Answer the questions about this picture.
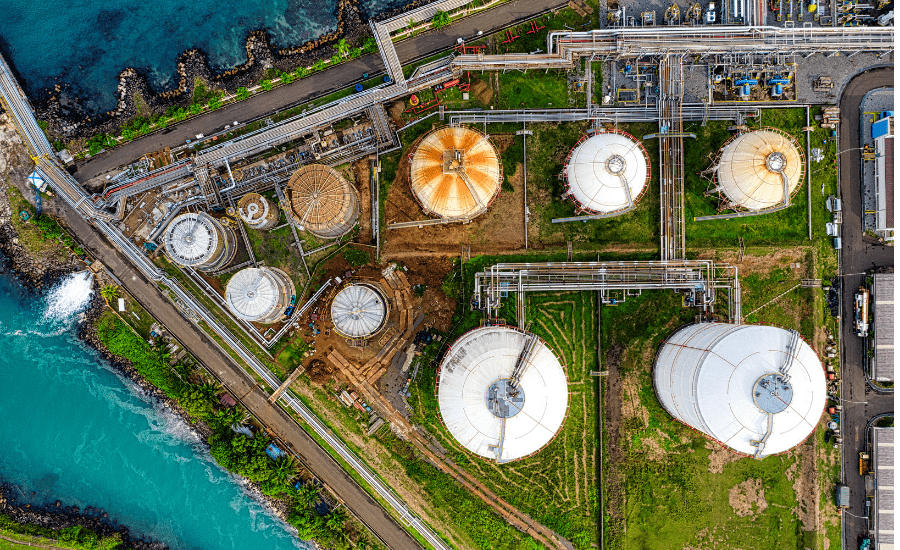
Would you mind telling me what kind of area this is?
industrial area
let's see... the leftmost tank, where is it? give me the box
[159,210,238,272]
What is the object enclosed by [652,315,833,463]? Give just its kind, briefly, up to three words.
storage tank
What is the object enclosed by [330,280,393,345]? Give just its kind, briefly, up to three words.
storage tank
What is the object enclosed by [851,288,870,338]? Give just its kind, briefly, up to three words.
vehicle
